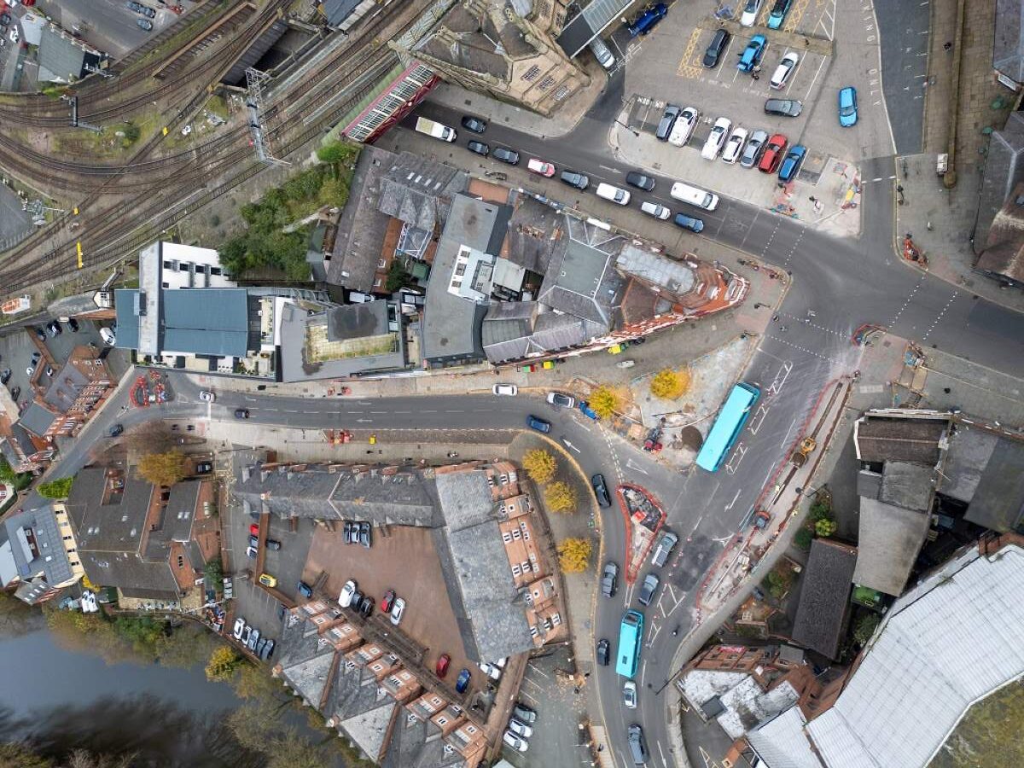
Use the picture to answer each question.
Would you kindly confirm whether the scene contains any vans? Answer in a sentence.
Yes, there's a van down there.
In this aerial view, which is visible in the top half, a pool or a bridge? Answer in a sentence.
There is a bridge in the top half.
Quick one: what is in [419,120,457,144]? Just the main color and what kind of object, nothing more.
white truck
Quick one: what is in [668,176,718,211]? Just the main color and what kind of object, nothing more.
white van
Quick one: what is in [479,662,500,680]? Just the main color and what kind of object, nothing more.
white car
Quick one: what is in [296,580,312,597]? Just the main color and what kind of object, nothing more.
blue car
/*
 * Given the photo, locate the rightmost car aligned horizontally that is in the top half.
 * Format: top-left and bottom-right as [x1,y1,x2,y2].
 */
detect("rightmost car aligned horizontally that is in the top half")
[764,97,803,116]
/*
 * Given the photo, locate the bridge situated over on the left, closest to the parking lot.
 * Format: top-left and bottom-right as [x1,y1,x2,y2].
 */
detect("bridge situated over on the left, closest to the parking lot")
[338,58,442,144]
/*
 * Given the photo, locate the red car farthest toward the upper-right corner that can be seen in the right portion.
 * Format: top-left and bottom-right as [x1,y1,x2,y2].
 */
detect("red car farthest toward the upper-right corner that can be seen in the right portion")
[757,136,786,172]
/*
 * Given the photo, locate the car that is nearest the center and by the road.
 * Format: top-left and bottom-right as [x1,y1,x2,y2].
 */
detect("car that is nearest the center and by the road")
[493,382,518,397]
